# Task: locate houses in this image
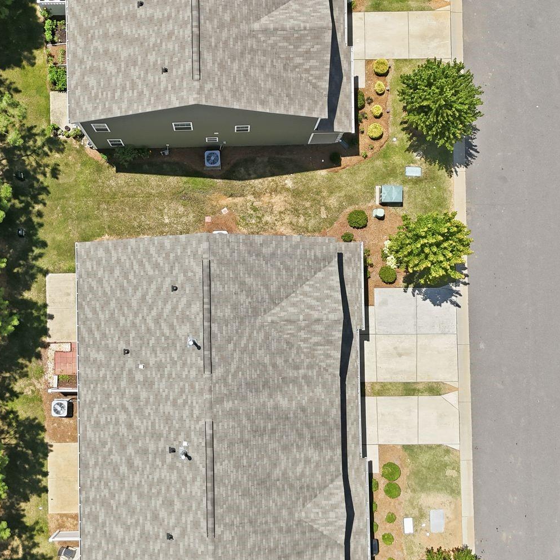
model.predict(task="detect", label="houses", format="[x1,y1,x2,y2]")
[74,233,371,560]
[66,0,356,148]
